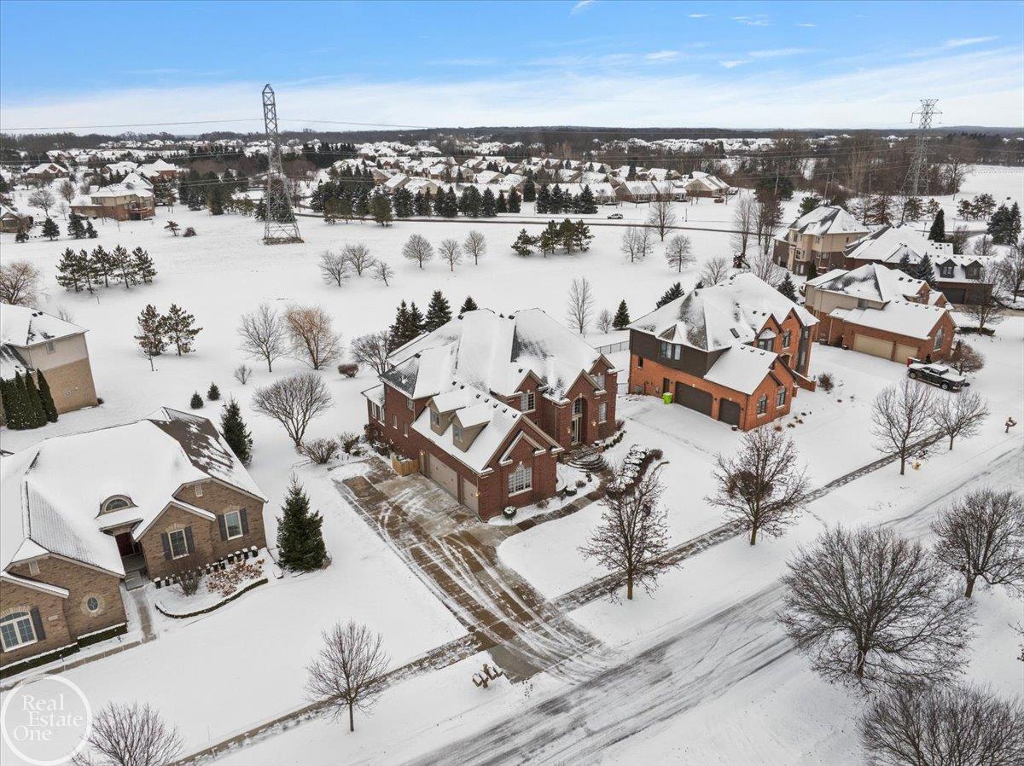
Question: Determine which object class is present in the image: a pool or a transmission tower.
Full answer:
It is a transmission tower that can be seen here.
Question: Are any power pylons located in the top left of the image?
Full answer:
Yes, the scene does show a power pylon in the top left of the image.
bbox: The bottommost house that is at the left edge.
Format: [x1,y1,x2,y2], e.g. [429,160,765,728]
[0,407,271,663]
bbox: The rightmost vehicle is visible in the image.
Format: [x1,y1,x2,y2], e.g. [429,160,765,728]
[907,367,970,390]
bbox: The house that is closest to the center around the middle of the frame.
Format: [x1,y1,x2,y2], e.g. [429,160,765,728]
[361,306,624,521]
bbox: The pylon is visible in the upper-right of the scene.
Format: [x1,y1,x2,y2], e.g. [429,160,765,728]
[897,93,946,197]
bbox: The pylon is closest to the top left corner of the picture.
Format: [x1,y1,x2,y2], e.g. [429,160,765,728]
[259,83,299,243]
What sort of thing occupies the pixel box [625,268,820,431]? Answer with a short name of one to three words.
house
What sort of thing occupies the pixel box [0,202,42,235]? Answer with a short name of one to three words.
house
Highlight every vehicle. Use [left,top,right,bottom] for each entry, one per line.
[608,214,623,220]
[907,367,970,390]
